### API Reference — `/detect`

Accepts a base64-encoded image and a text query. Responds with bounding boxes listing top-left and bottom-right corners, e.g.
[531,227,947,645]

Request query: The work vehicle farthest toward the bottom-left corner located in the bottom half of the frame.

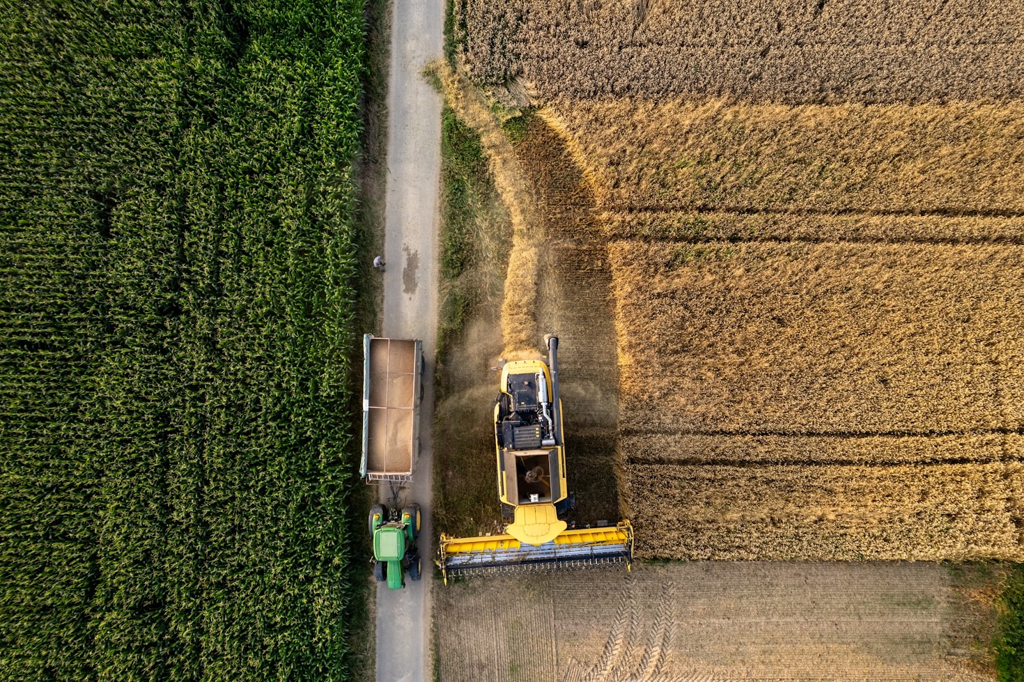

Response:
[366,499,422,589]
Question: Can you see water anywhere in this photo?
No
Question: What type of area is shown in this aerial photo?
farmland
